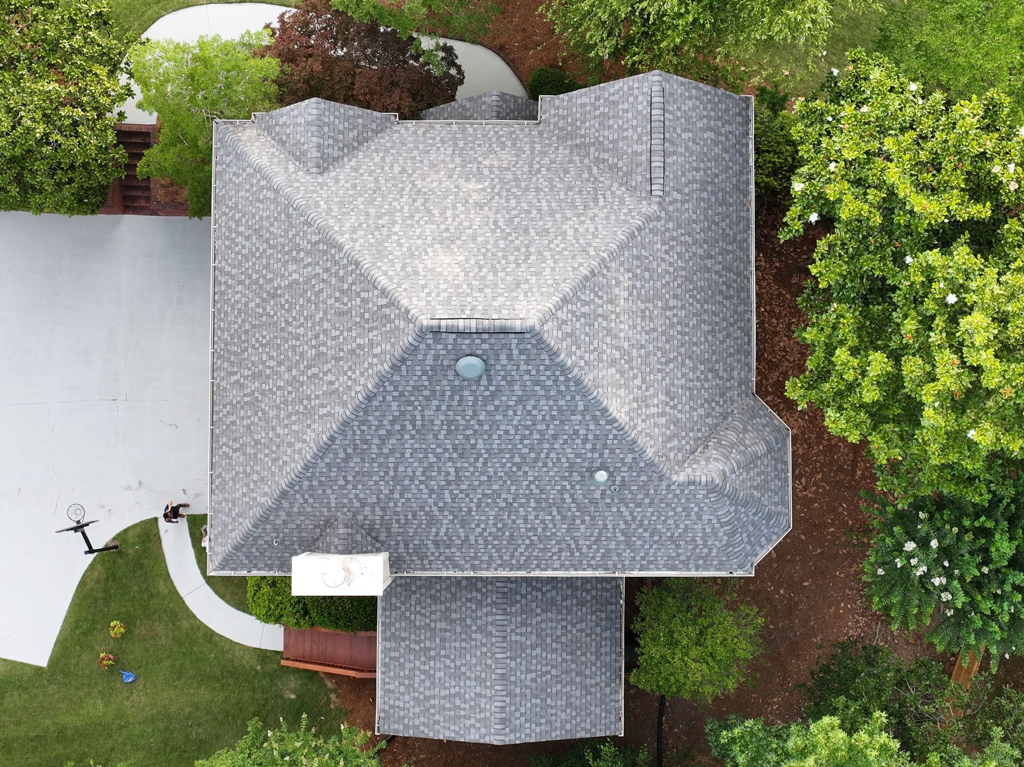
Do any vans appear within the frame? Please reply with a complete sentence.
No, no van can be seen from above.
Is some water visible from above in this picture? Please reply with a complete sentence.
No, no water is visible.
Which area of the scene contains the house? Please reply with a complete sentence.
The house appears toward the center of the photo.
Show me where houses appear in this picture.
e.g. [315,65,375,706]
[208,69,792,744]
